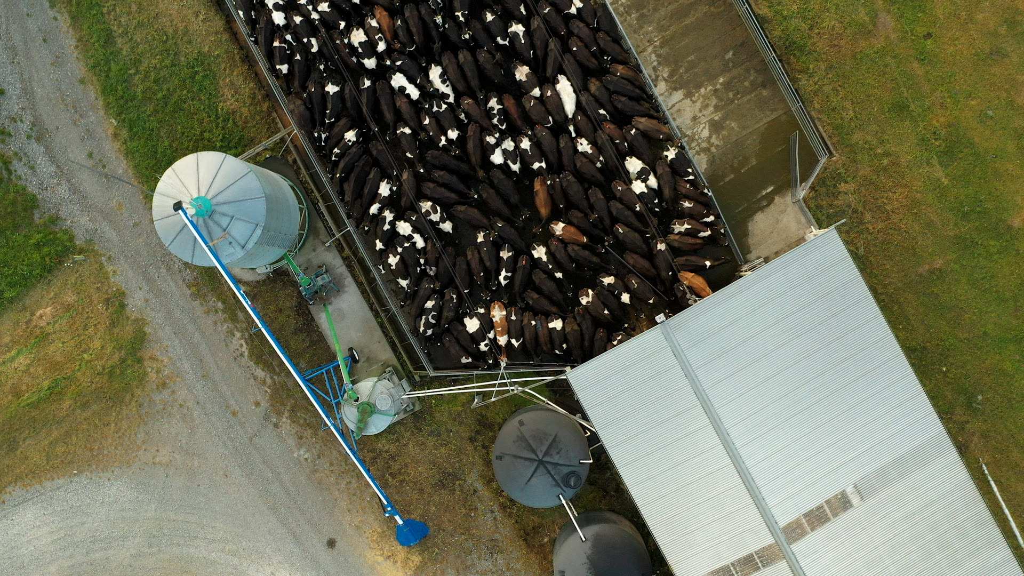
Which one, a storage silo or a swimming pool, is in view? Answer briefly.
storage silo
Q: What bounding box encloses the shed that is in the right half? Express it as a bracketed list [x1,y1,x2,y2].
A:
[563,226,1024,576]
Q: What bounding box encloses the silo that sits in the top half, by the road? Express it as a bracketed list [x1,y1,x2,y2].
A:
[151,151,309,276]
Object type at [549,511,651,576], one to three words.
water tank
